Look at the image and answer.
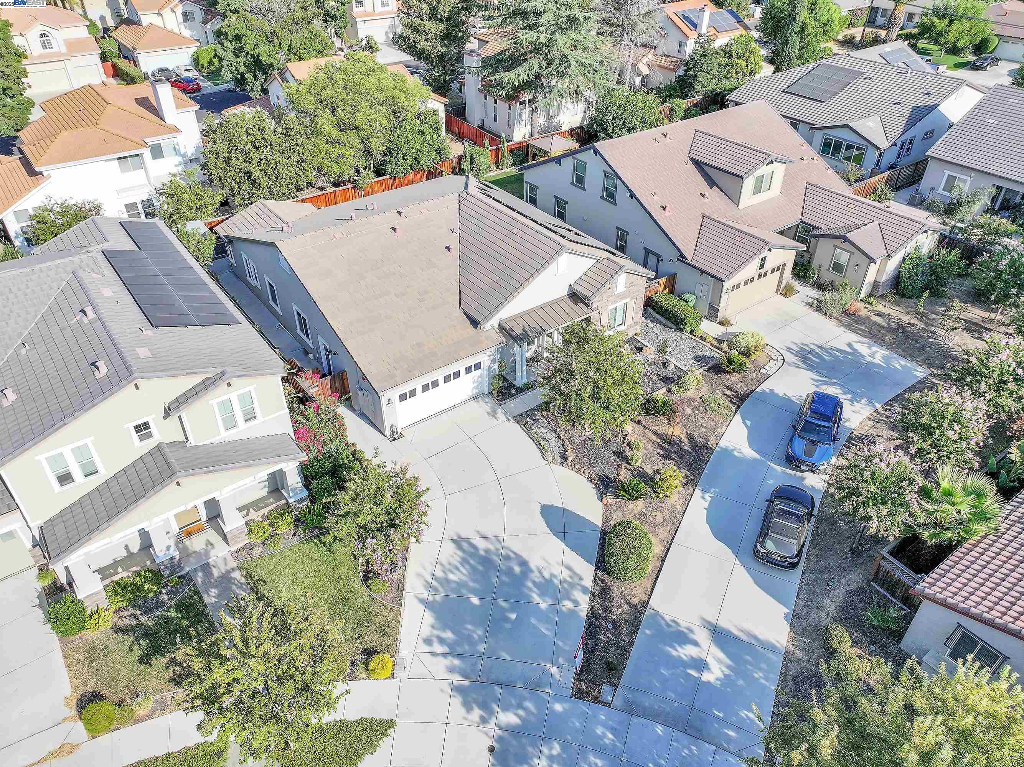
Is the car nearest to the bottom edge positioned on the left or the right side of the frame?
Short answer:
right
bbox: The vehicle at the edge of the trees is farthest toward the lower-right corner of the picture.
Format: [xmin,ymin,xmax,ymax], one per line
[757,476,821,567]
